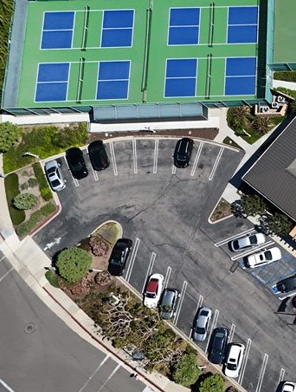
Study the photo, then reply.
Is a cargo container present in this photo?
No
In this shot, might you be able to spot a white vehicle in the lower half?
Yes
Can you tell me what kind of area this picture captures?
sports ground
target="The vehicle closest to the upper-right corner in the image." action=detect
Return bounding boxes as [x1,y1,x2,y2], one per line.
[174,137,195,170]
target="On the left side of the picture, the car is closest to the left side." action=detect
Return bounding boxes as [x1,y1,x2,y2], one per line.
[47,159,68,193]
